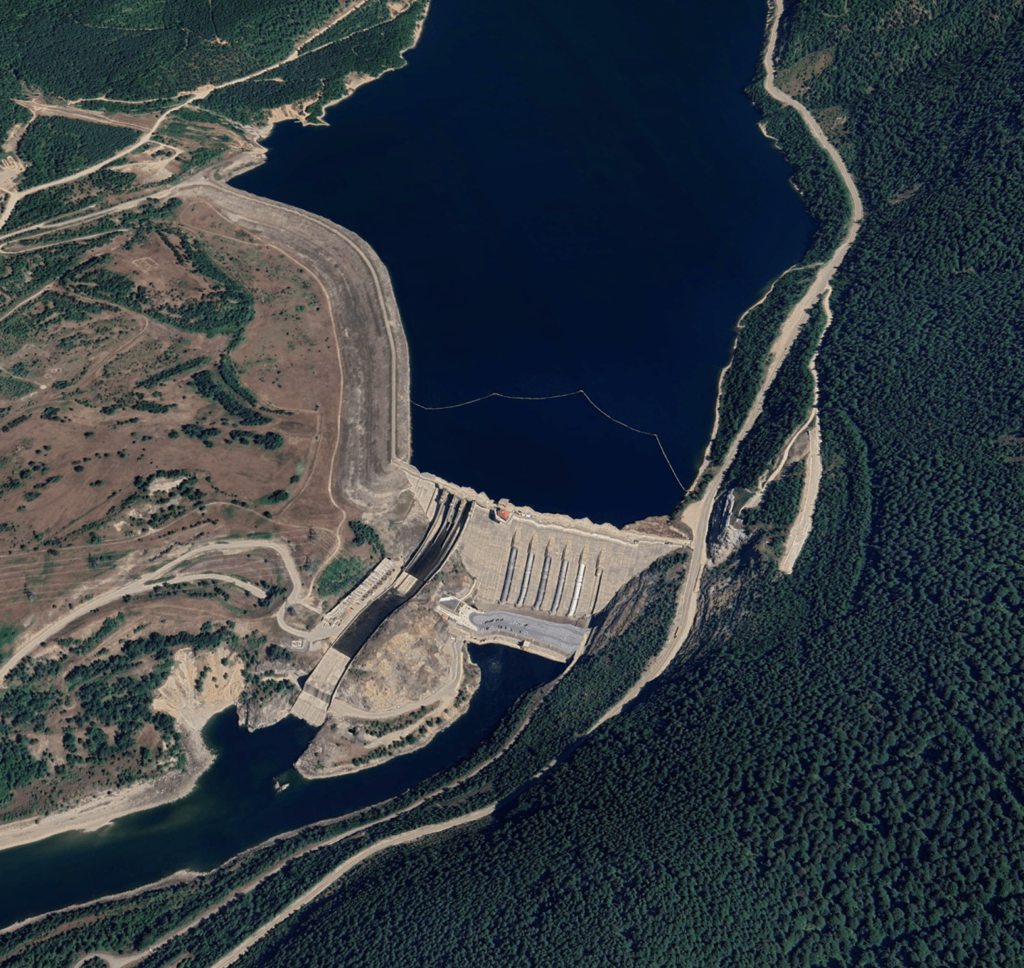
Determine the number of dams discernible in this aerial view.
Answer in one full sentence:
Looking from above, you can make out 2 dams.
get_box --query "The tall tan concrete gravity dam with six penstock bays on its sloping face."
[393,459,692,629]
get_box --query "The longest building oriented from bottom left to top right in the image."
[325,557,393,625]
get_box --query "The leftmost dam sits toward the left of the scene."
[193,177,411,510]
